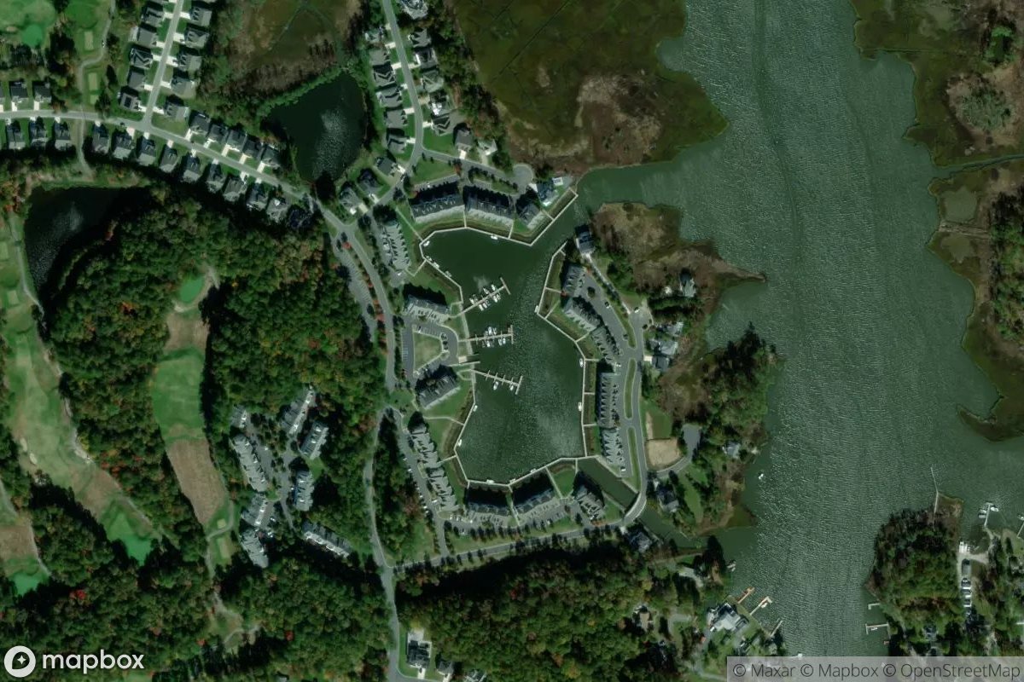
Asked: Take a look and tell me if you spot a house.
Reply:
Yes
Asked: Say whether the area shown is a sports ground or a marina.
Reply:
marina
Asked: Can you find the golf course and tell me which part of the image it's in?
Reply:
left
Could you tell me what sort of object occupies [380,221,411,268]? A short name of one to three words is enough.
building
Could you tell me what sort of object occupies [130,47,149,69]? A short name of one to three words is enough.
house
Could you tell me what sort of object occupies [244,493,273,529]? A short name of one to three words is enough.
building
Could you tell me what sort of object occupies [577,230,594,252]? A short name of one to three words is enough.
house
